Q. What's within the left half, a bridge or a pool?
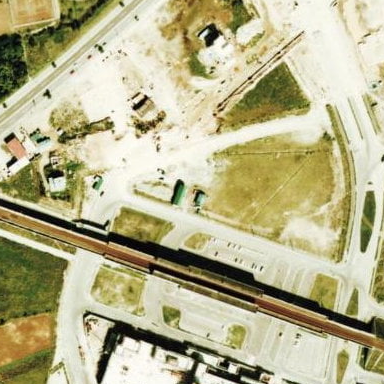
bridge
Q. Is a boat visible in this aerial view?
No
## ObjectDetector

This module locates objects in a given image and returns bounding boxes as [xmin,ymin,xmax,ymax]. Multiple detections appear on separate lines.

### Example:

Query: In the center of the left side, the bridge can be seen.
[0,205,111,258]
